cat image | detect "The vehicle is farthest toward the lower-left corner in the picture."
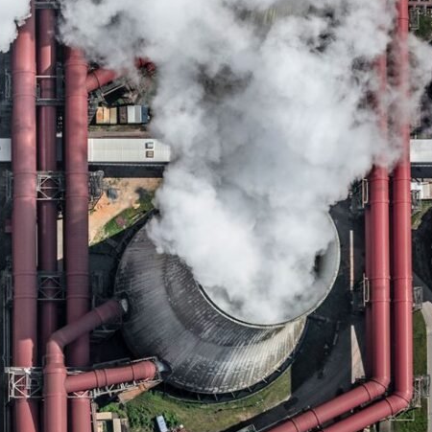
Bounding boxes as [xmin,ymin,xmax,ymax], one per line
[156,416,168,432]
